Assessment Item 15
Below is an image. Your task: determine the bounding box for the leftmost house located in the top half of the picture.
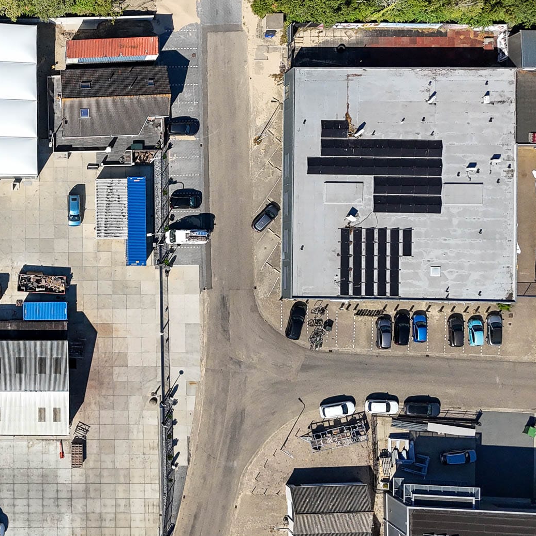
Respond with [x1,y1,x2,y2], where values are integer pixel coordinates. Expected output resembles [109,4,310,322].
[61,66,173,138]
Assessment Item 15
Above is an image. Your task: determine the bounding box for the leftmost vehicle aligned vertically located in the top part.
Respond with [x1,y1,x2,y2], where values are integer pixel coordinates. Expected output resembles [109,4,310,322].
[65,193,82,227]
